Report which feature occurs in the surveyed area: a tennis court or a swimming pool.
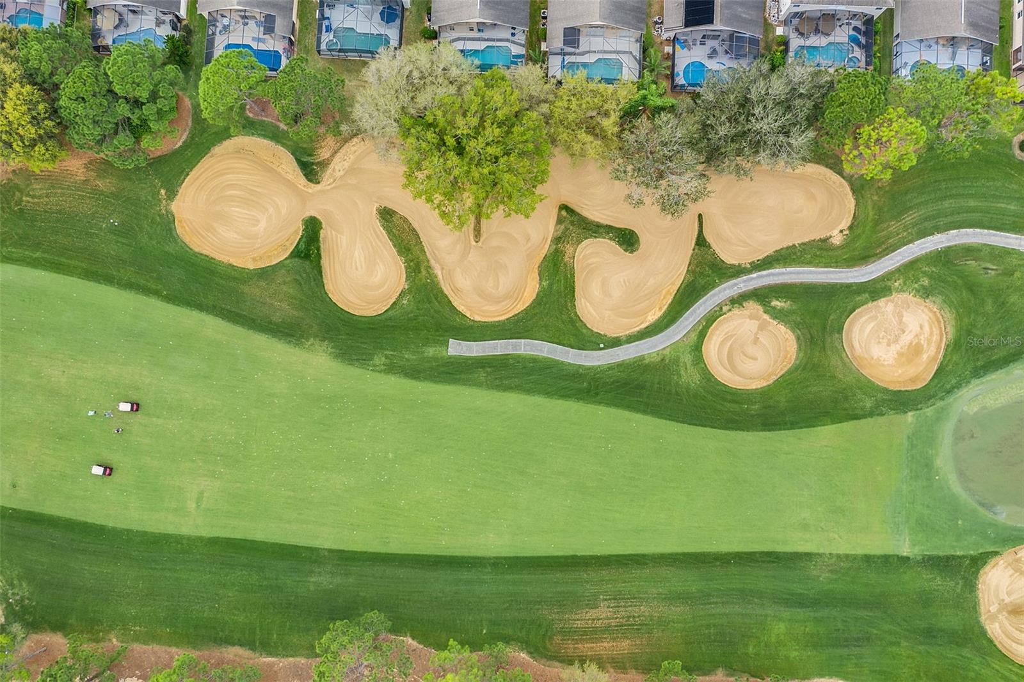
swimming pool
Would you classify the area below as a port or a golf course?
golf course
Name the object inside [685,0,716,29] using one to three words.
solar panel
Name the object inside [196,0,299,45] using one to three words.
house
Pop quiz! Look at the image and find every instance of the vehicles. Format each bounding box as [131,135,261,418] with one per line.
[116,402,141,412]
[89,465,115,476]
